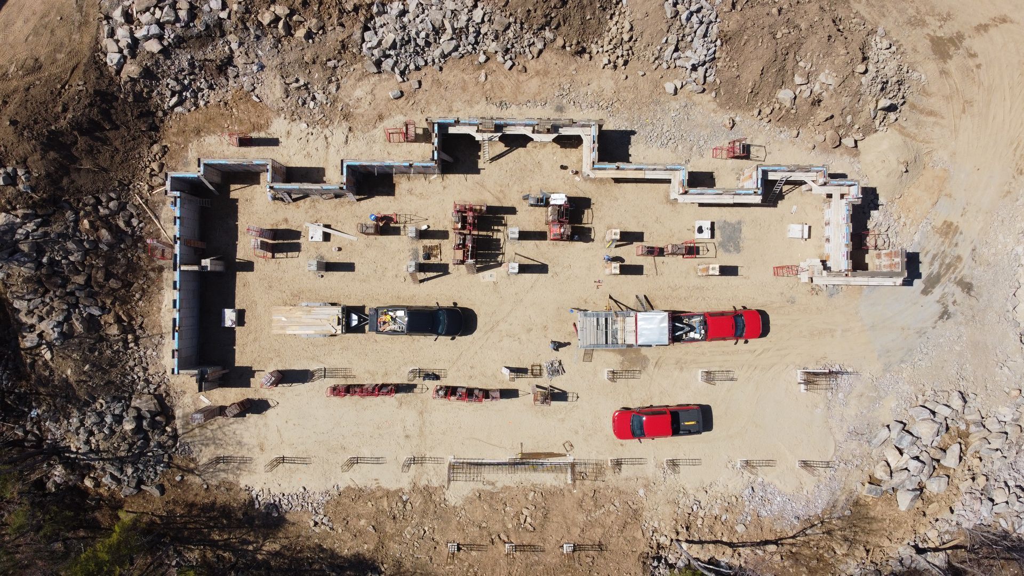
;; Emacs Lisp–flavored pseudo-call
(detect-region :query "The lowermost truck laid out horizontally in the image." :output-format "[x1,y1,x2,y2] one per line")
[611,404,701,443]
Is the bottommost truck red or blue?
red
